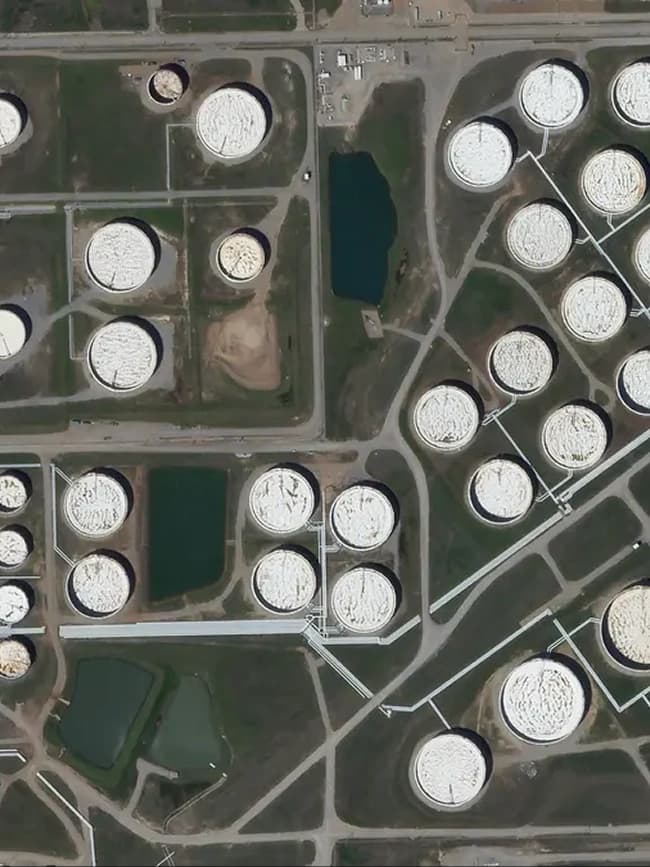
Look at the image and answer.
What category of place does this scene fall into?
industrial area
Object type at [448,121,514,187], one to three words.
storage tank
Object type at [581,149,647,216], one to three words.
storage tank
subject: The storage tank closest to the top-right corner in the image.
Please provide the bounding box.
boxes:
[611,61,650,128]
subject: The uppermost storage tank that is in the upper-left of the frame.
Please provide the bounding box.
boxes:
[147,69,184,106]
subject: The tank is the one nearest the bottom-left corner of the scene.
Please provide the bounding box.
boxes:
[0,638,31,680]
